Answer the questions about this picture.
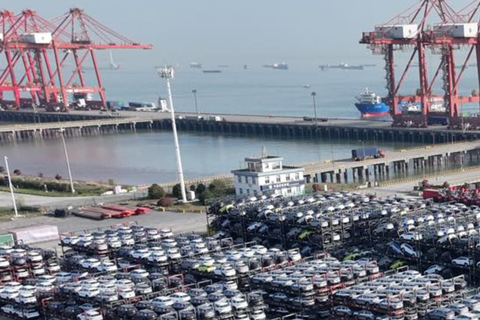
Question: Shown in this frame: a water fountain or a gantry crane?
gantry crane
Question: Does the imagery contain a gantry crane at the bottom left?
No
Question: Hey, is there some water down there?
Yes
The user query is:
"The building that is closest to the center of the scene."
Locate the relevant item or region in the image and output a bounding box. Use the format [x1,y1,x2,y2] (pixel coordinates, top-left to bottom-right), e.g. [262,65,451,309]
[229,143,305,194]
